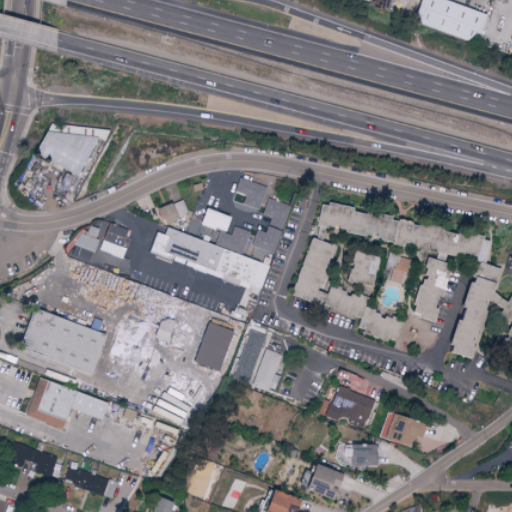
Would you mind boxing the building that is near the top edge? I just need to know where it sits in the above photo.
[420,0,490,40]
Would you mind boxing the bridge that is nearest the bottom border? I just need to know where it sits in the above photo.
[0,12,58,54]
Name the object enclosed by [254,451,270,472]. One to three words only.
swimming pool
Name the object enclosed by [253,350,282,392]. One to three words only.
building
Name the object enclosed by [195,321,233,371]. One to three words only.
shed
